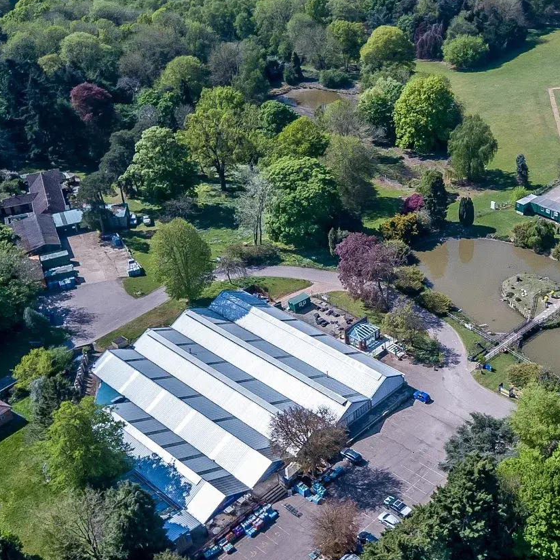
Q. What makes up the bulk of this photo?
trees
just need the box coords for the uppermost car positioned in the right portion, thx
[413,388,431,402]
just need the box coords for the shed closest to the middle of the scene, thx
[286,295,313,315]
